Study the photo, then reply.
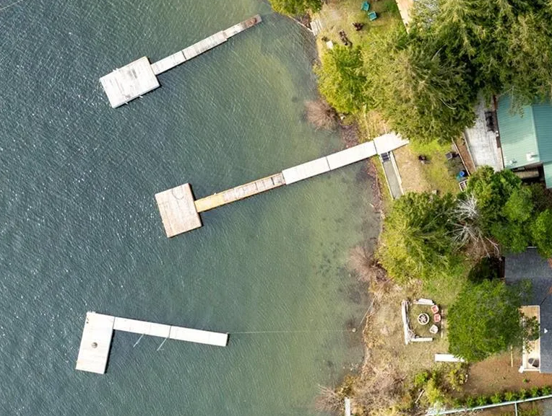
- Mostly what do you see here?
water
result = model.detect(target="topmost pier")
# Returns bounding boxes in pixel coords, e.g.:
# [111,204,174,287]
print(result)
[100,15,263,108]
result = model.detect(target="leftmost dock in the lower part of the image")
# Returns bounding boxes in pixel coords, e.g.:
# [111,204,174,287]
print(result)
[76,312,229,374]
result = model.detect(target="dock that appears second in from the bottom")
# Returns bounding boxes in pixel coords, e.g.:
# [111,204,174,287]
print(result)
[156,132,408,238]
